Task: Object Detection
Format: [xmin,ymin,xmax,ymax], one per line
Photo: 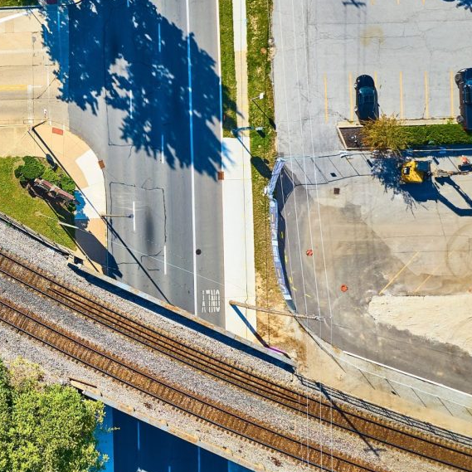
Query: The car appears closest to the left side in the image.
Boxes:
[355,75,378,122]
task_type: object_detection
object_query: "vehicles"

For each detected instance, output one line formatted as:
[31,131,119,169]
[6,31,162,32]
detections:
[400,161,472,184]
[355,75,378,122]
[455,71,472,129]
